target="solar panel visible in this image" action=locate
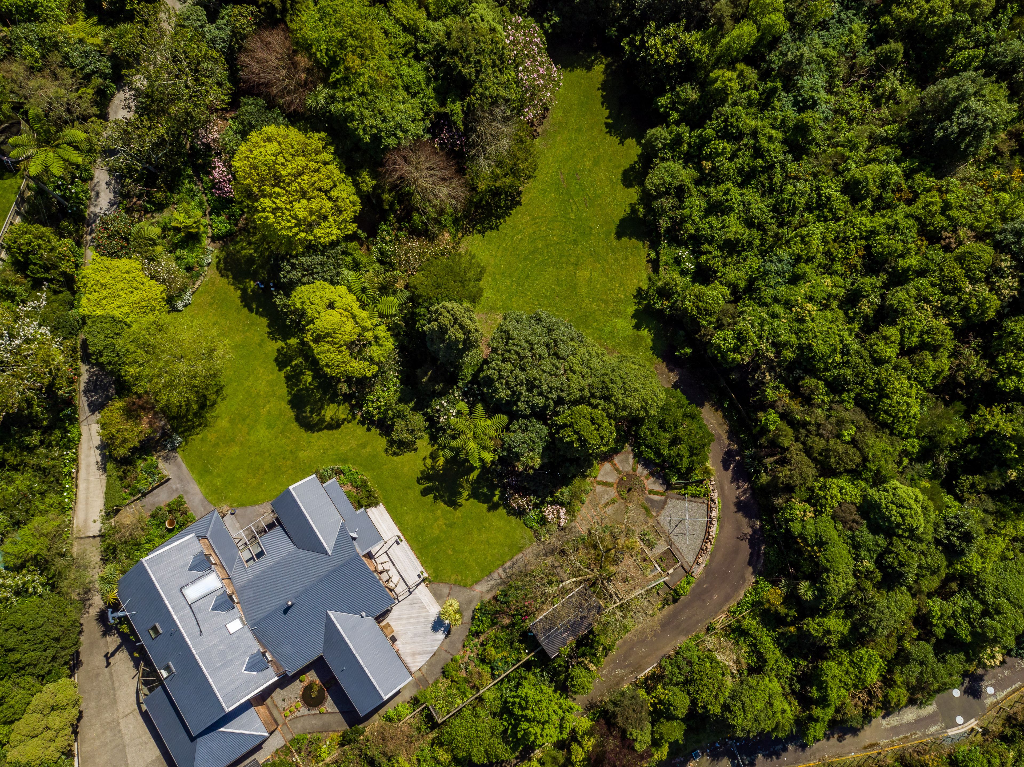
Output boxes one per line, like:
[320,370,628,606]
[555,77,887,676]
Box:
[180,570,222,636]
